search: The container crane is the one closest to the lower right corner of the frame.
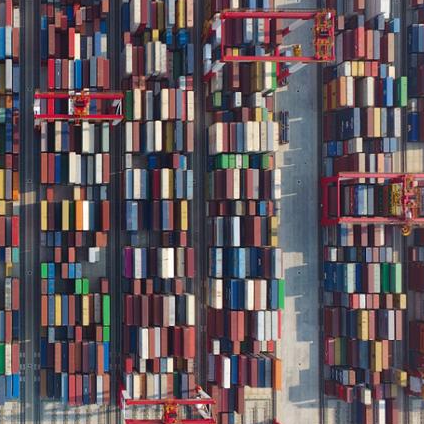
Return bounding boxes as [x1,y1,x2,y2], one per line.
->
[394,366,424,424]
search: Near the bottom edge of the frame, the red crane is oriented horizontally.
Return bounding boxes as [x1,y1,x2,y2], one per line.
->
[116,378,216,424]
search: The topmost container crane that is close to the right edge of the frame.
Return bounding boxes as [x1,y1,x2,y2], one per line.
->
[312,169,424,237]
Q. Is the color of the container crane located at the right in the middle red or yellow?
red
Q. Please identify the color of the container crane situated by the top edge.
red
